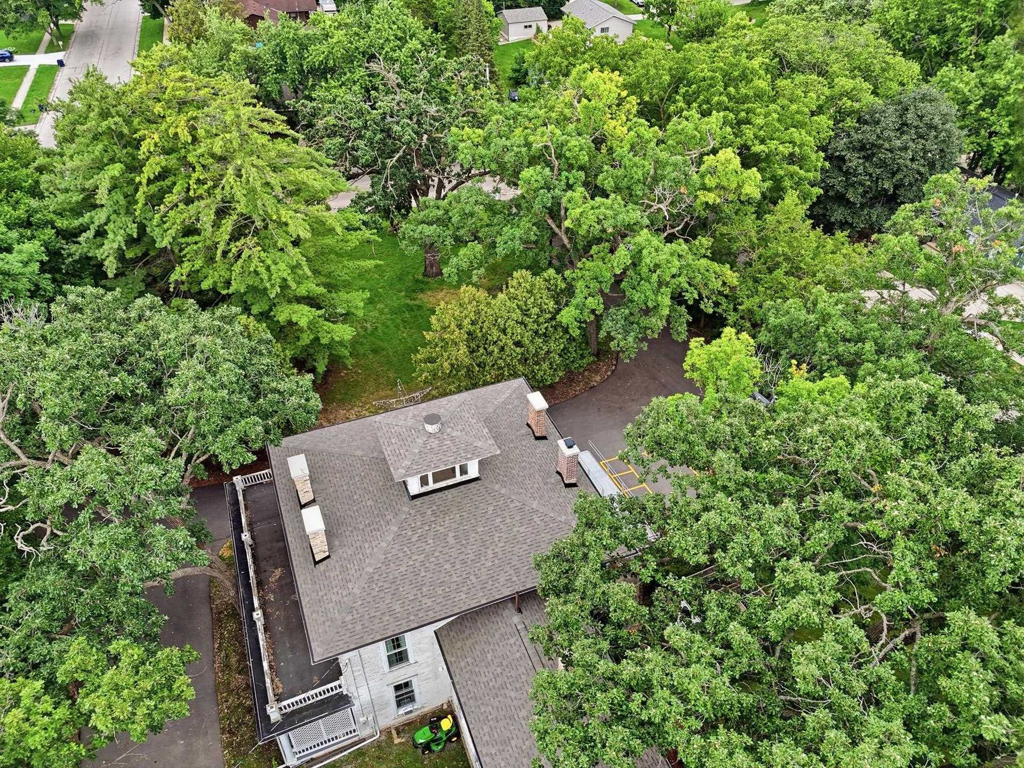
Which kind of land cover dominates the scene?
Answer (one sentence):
Most of the picture is covered by trees.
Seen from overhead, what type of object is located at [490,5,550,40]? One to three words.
shed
